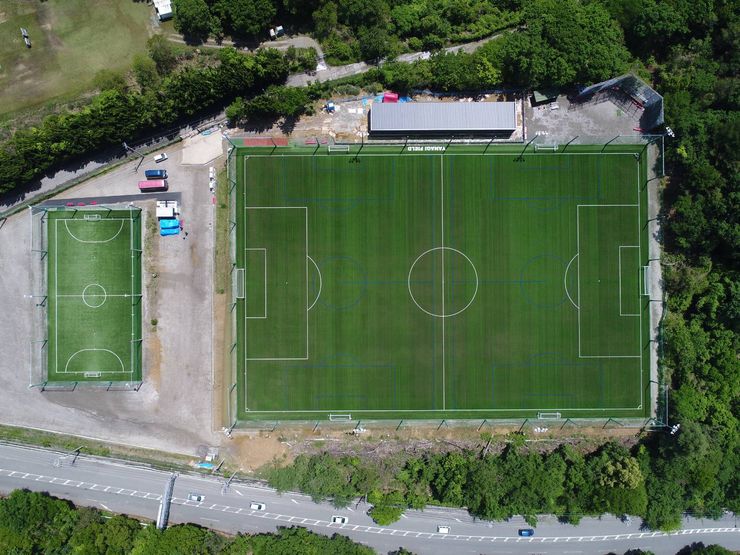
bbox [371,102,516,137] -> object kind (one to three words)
building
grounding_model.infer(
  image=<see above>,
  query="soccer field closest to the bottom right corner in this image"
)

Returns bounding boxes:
[236,145,650,420]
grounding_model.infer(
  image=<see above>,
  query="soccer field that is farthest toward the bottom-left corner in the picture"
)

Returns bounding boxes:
[48,210,142,382]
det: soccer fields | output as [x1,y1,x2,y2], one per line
[236,145,650,420]
[48,210,142,382]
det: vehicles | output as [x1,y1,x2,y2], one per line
[139,178,171,190]
[322,103,335,111]
[188,493,206,503]
[145,168,169,178]
[332,515,348,524]
[250,502,266,510]
[153,152,169,163]
[517,528,533,537]
[268,26,278,40]
[436,525,450,533]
